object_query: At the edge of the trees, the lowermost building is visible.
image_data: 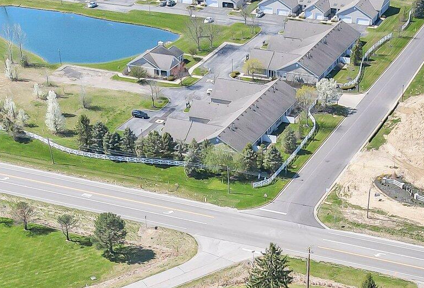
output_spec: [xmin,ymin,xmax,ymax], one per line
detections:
[149,77,297,161]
